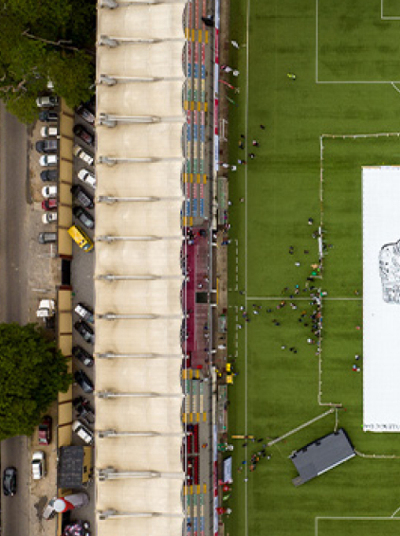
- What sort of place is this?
sports ground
